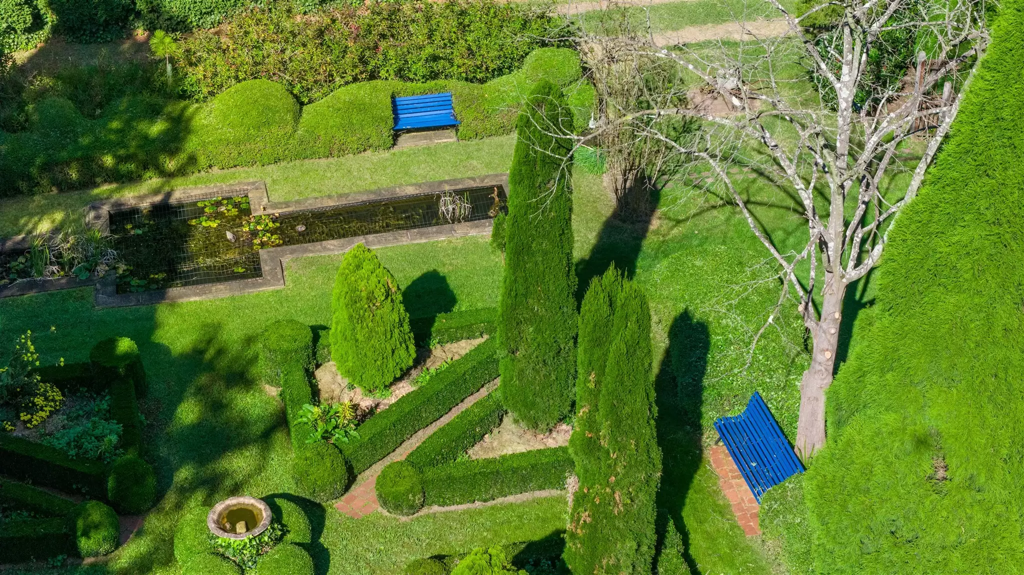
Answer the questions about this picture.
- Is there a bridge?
No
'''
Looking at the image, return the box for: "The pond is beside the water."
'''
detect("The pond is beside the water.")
[0,171,512,310]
